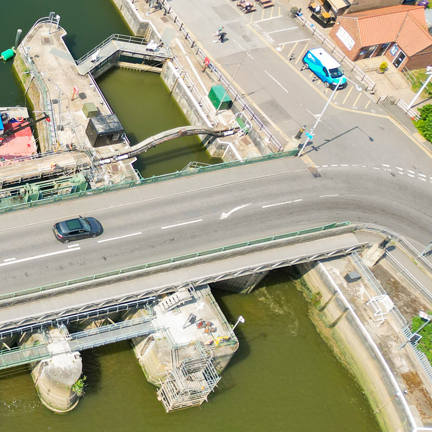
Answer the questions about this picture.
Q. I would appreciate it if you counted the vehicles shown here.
2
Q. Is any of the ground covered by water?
Yes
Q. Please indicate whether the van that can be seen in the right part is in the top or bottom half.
top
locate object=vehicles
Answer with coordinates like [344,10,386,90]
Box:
[53,214,102,242]
[301,44,348,89]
